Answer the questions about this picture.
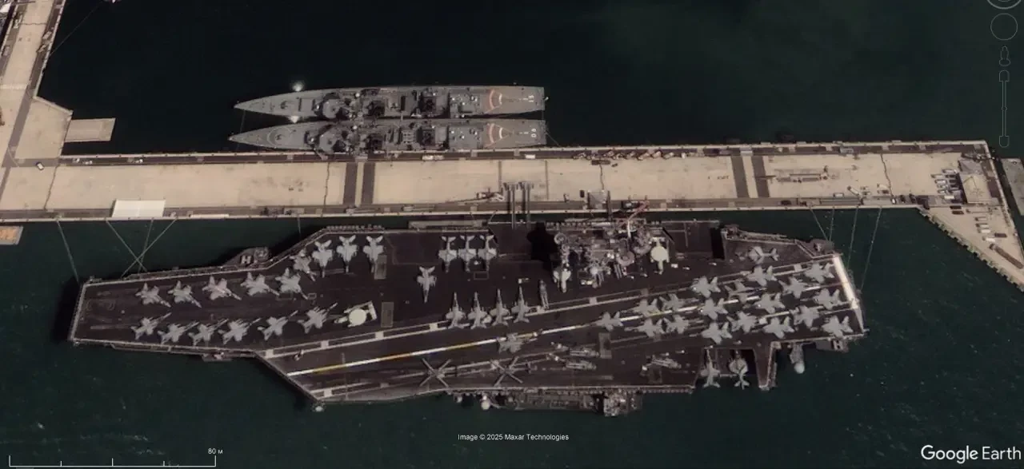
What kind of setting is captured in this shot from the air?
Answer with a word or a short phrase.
port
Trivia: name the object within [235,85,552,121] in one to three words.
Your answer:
ship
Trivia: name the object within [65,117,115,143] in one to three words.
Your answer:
pier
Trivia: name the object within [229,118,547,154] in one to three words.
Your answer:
ship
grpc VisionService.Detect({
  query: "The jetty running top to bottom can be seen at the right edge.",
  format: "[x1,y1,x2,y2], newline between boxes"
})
[1002,158,1024,218]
